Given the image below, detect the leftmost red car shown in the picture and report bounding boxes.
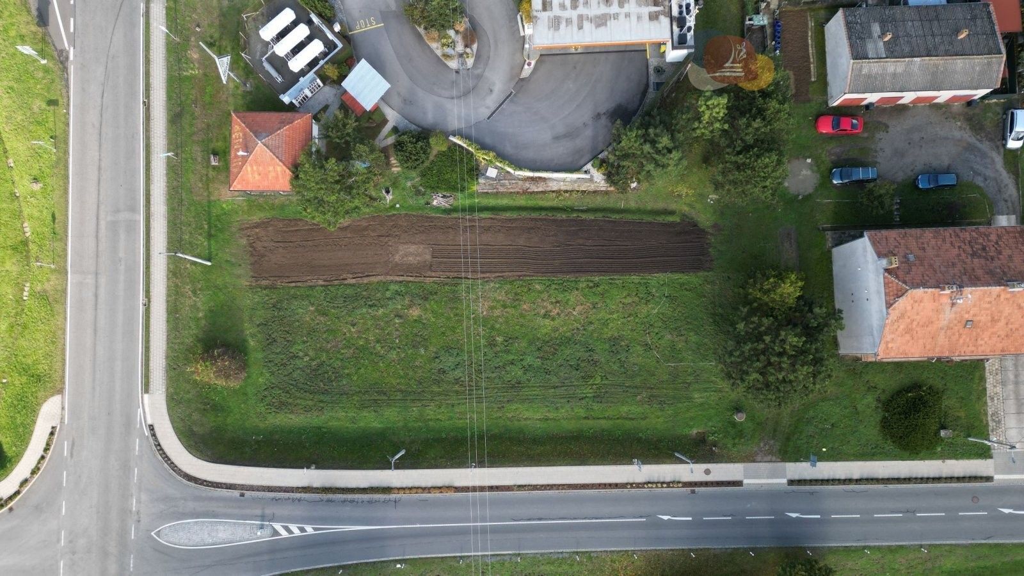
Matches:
[815,111,865,135]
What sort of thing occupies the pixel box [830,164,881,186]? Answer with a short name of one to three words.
car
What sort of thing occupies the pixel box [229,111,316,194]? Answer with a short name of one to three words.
building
